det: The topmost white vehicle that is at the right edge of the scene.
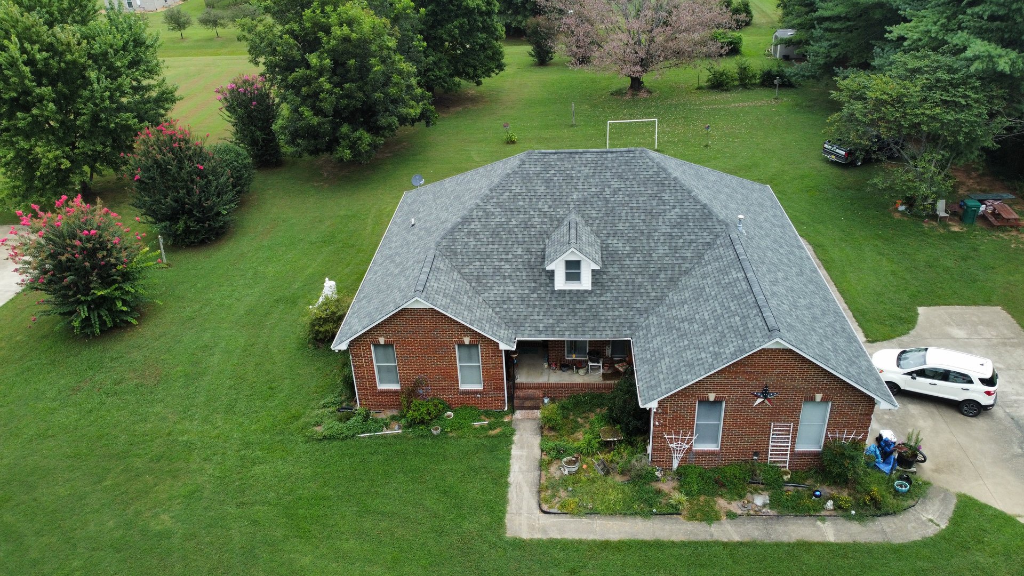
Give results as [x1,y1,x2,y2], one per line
[873,346,998,413]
